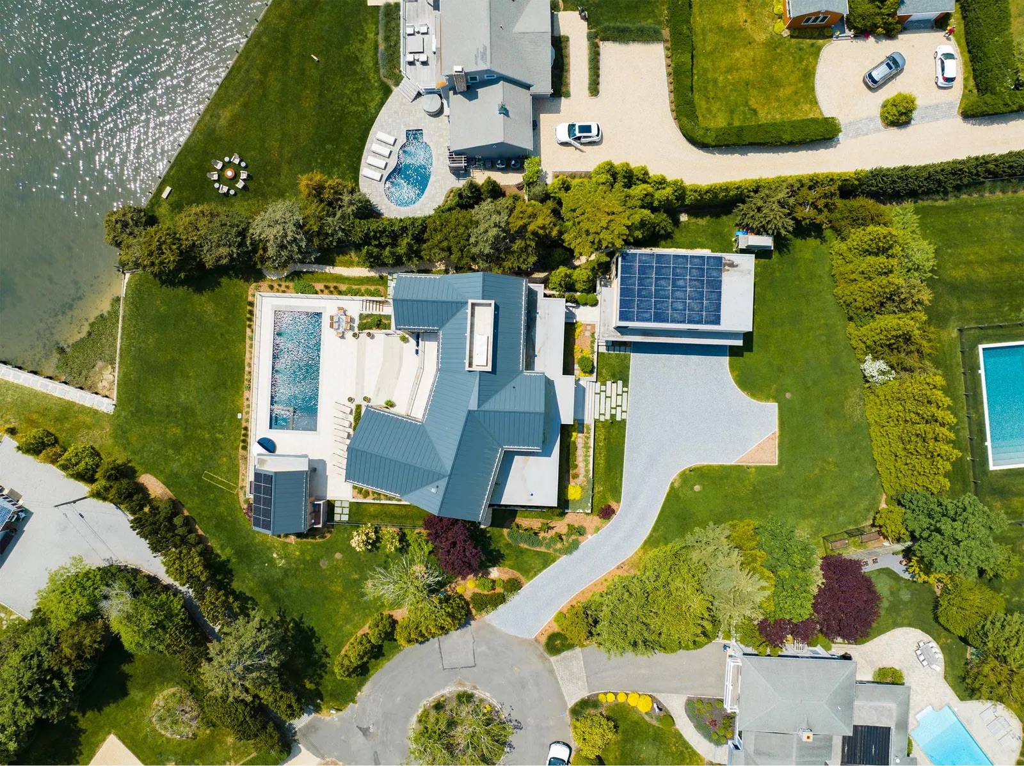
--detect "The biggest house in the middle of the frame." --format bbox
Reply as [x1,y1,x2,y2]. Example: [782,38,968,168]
[345,271,595,522]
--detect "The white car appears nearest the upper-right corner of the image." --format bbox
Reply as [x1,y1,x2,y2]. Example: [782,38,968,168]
[928,47,953,91]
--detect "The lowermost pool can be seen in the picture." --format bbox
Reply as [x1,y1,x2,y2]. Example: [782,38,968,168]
[910,705,999,766]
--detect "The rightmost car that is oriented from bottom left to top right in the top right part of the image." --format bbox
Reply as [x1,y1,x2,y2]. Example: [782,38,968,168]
[858,50,904,92]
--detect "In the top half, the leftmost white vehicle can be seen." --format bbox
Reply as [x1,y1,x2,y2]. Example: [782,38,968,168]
[554,118,600,148]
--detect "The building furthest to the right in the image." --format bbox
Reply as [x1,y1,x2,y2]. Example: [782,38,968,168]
[896,0,955,31]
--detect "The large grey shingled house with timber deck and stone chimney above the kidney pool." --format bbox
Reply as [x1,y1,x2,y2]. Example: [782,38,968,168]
[440,0,560,163]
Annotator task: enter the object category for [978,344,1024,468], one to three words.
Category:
swimming pool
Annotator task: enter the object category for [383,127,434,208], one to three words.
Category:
swimming pool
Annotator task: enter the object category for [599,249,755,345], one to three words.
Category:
building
